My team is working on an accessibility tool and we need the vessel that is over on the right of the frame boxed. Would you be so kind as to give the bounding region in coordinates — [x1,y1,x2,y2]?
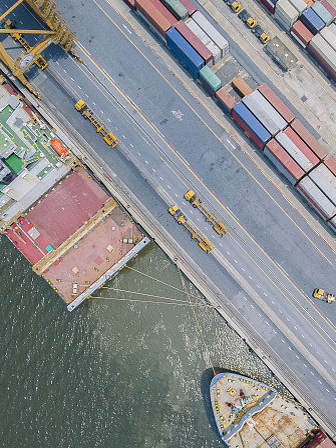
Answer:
[209,371,336,448]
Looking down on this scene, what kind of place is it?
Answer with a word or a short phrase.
port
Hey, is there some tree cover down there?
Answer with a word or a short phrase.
No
